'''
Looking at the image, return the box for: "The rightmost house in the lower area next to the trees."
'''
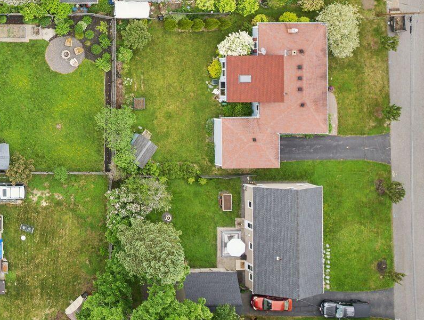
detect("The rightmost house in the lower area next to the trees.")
[234,183,324,300]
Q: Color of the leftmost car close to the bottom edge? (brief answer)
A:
red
